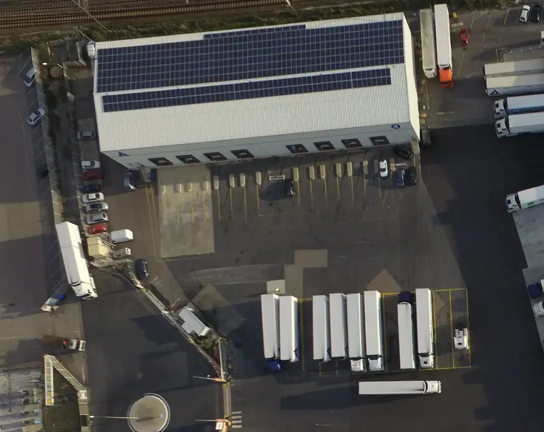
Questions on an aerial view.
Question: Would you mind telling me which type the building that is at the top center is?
warehouse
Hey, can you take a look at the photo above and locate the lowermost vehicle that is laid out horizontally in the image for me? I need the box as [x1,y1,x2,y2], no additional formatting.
[358,380,442,395]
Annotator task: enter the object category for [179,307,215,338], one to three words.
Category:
shed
